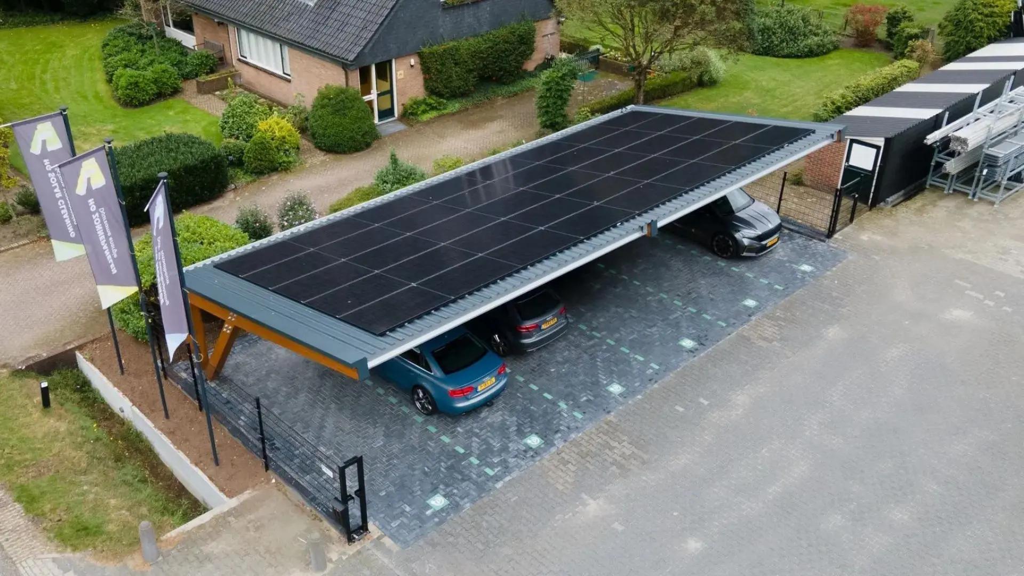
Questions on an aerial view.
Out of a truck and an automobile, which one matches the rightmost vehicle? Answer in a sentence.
The rightmost vehicle appears to be an automobile.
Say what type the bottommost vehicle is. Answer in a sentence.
It turns out the bottommost vehicle is an automobile.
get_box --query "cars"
[380,327,515,421]
[668,188,787,261]
[466,285,574,357]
